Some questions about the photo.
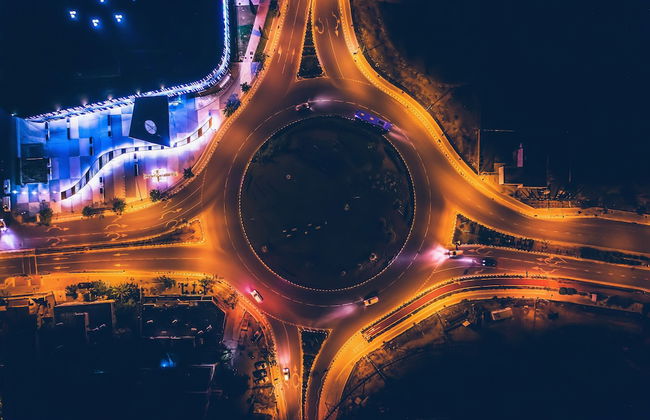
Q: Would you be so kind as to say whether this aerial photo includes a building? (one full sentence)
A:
Yes, the photo shows a building.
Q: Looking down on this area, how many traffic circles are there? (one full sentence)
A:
In total, there is 1 traffic circle in the scene.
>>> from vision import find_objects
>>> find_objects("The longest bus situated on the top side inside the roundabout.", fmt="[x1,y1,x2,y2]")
[355,110,392,133]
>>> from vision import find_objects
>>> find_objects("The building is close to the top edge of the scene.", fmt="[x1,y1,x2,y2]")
[0,0,235,126]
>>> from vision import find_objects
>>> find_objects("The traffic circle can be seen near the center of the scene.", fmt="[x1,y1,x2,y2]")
[202,78,452,328]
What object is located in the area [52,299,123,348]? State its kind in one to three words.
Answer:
building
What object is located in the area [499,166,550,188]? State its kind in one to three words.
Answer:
building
